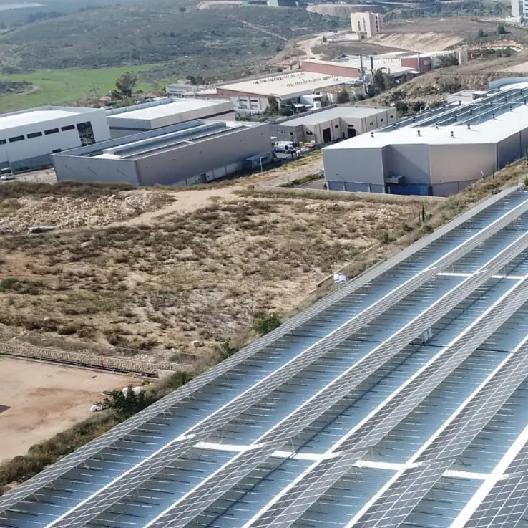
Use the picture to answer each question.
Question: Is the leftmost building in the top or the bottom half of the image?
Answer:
top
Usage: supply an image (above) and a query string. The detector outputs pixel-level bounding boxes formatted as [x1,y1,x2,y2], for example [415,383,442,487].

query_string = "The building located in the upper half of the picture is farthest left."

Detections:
[0,105,109,182]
